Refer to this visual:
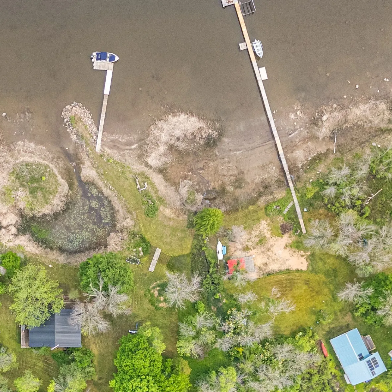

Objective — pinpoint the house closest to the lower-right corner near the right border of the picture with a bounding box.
[328,329,386,387]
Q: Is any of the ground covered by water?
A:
Yes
